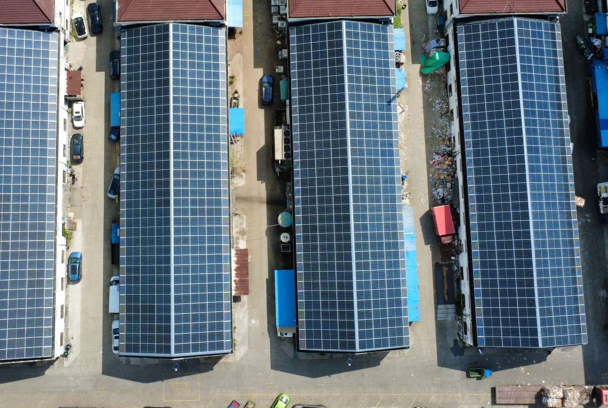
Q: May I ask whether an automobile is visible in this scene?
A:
Yes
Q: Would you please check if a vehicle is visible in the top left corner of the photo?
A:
Yes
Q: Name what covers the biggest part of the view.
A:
buildings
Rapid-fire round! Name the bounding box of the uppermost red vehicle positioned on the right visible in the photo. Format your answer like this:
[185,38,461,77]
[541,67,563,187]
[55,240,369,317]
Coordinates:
[426,205,455,246]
